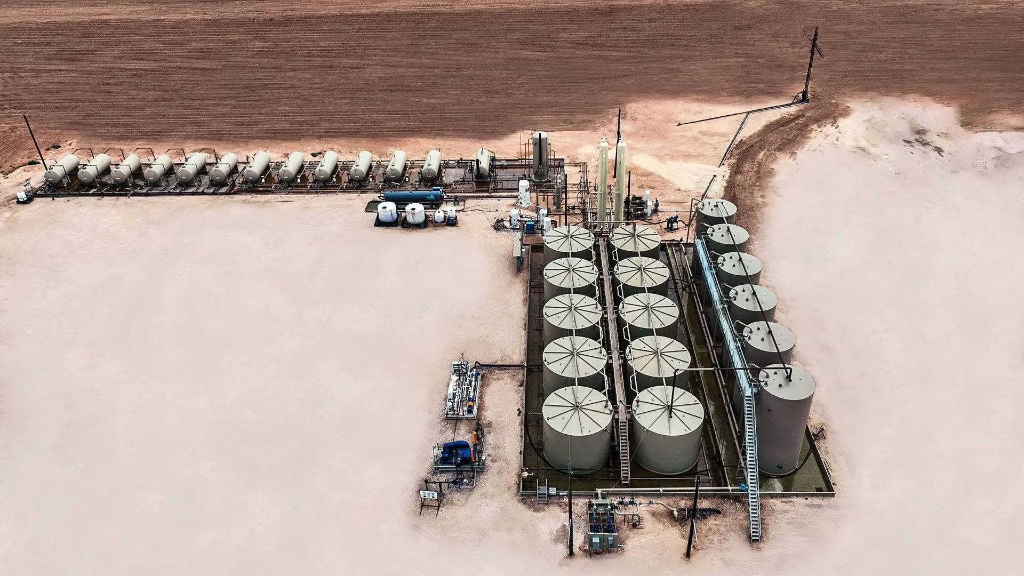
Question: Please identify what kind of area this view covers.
industrial area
